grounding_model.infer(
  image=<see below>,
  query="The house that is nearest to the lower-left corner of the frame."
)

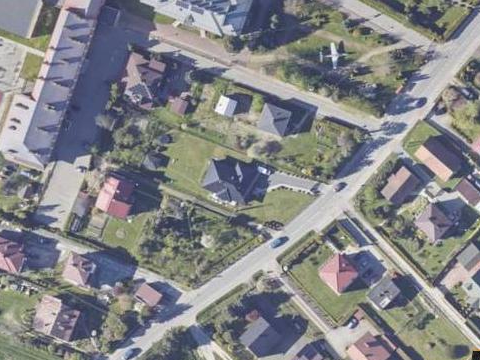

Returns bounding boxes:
[34,294,80,341]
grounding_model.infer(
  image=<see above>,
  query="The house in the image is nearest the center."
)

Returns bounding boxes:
[203,159,257,205]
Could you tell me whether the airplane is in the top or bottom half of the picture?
top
